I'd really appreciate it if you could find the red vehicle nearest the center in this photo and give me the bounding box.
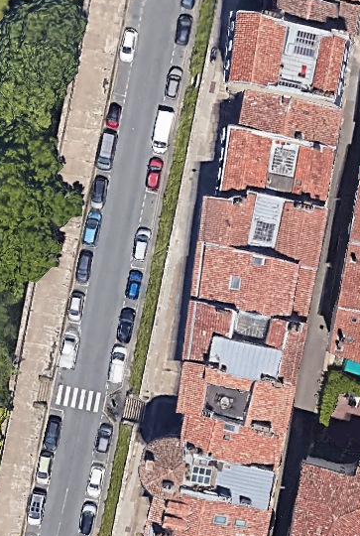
[145,154,166,193]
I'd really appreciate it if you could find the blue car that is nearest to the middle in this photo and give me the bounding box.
[124,267,145,302]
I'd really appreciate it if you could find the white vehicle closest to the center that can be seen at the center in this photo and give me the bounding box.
[130,224,154,263]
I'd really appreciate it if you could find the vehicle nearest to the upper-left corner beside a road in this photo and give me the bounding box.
[118,25,141,64]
